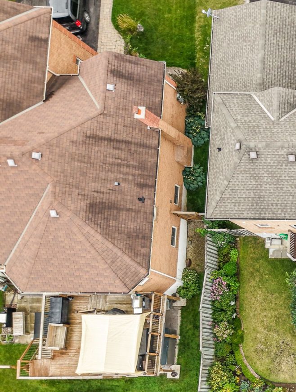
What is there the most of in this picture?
buildings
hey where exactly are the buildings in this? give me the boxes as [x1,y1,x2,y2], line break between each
[204,0,296,239]
[0,1,200,295]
